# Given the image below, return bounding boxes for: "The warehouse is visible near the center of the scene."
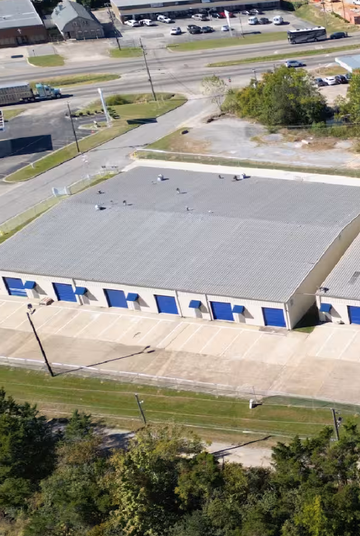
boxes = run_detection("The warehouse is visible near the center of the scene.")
[0,166,360,328]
